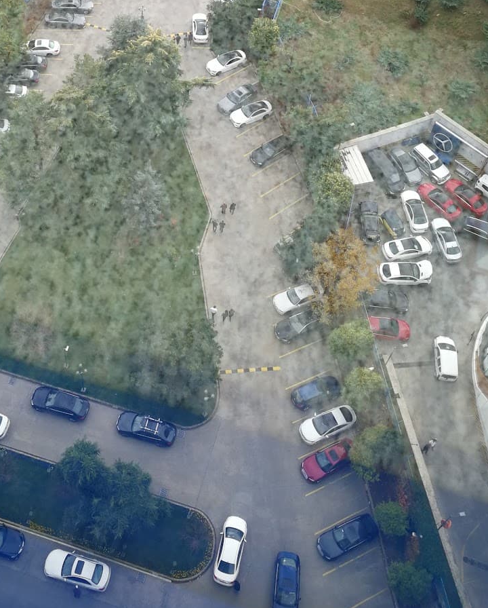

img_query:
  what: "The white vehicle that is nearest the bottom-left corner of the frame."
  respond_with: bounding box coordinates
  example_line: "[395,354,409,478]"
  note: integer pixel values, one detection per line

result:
[44,548,110,591]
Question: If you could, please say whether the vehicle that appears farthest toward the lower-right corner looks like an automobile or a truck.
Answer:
automobile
